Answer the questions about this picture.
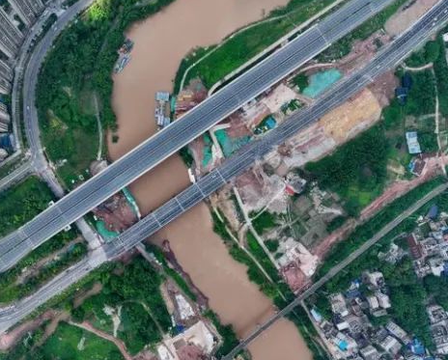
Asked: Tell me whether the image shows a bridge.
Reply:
Yes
